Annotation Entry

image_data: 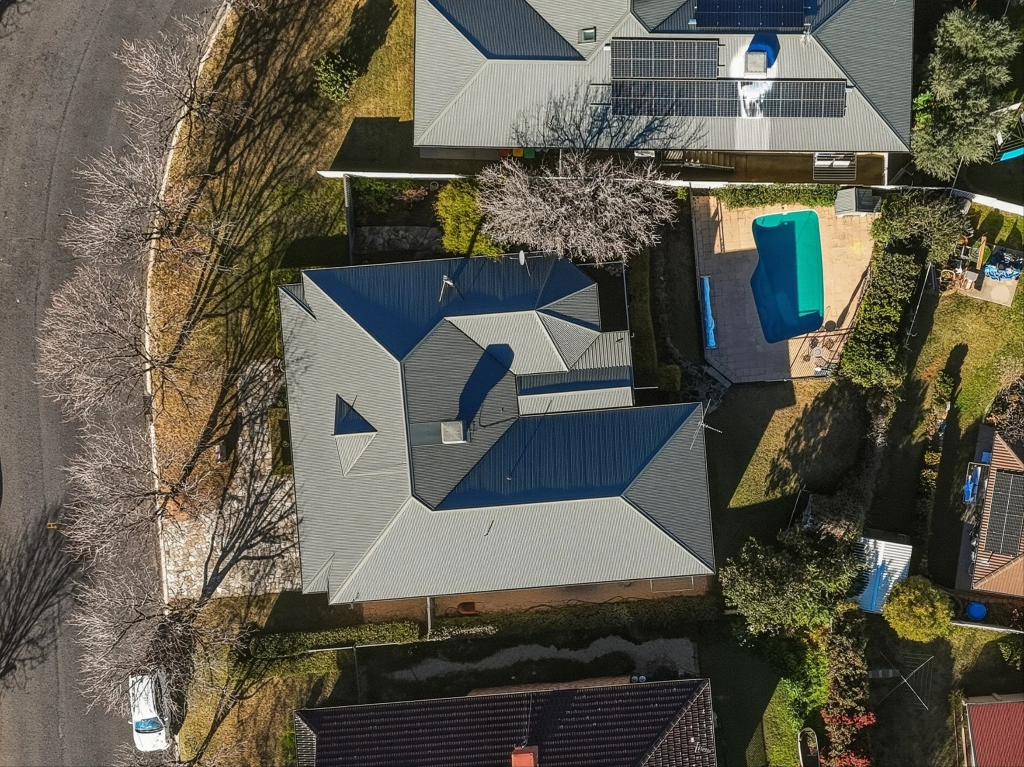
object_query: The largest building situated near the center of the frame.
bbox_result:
[274,252,717,608]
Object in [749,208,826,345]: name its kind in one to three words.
swimming pool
